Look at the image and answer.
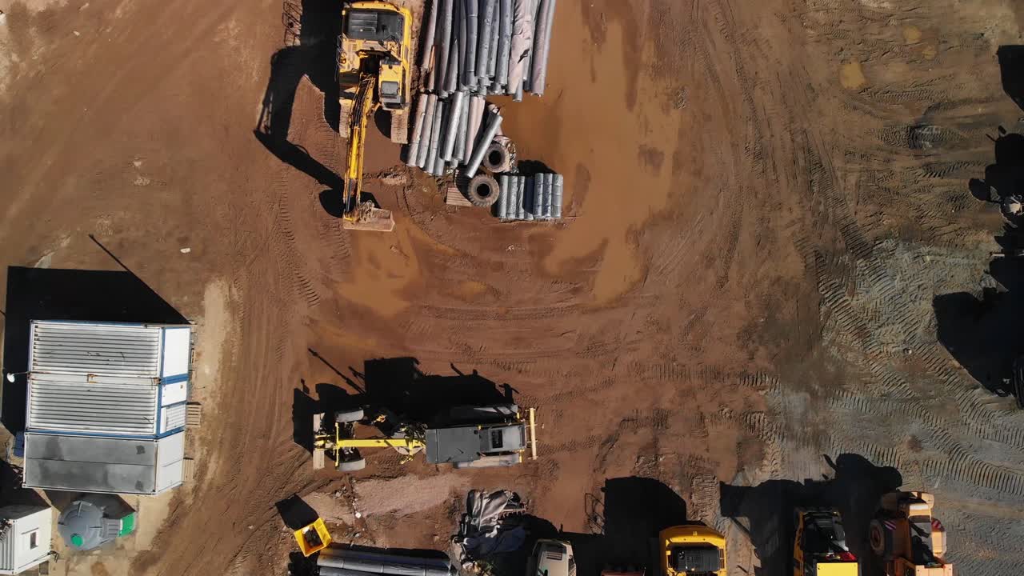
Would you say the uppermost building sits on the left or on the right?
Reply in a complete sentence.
The uppermost building is on the left side of the image.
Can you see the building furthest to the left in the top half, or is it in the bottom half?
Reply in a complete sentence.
It is in the bottom half that the building furthest to the left appears.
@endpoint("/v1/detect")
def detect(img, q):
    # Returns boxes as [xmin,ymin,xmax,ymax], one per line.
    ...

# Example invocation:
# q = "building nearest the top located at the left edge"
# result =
[30,319,192,381]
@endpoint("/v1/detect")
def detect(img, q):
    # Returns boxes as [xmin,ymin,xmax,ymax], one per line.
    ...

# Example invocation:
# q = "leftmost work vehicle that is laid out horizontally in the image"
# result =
[312,405,538,473]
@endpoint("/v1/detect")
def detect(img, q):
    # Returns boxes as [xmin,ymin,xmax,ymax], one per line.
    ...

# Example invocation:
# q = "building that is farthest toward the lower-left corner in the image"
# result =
[0,506,58,575]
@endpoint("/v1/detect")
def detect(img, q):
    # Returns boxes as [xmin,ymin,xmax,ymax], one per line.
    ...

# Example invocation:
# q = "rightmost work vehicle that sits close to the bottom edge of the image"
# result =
[869,489,953,576]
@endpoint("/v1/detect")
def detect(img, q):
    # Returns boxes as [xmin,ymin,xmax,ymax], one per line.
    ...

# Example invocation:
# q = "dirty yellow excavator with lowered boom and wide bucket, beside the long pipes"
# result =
[337,2,413,229]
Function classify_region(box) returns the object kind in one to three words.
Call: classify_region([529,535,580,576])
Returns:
truck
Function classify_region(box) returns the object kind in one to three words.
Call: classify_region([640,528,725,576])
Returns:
work vehicle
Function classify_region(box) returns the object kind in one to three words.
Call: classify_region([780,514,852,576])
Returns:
work vehicle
